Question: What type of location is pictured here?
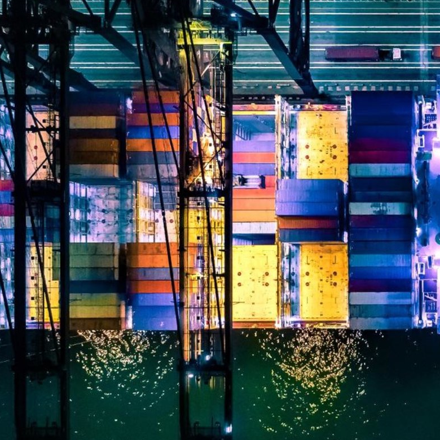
port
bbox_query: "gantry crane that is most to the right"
[103,0,330,440]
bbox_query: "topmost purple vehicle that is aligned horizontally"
[326,48,403,63]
